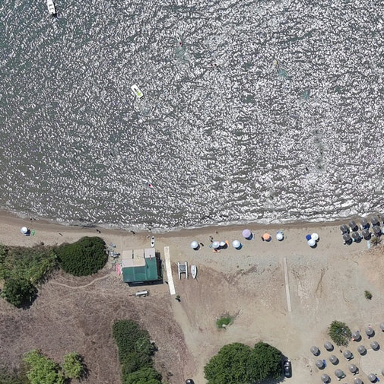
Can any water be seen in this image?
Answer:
Yes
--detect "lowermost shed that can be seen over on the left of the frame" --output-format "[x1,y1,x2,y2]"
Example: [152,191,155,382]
[122,248,159,282]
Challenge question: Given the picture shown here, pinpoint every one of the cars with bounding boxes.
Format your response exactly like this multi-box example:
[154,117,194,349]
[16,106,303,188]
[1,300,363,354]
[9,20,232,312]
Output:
[185,377,195,384]
[284,360,292,378]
